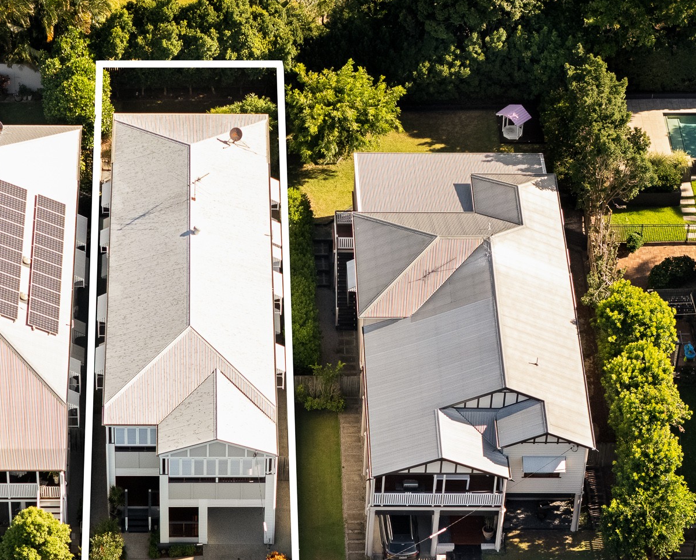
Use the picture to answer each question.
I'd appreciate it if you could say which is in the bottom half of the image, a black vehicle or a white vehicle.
black vehicle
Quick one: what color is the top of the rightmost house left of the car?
white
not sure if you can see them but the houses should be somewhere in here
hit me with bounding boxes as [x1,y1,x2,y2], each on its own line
[97,111,285,544]
[334,159,597,557]
[0,124,89,550]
